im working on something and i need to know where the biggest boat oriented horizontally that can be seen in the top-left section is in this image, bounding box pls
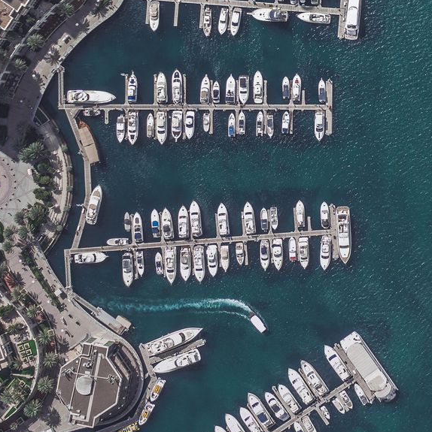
[66,90,117,104]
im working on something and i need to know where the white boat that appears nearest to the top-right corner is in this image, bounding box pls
[345,0,361,42]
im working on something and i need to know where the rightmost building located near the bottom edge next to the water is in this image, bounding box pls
[55,340,138,429]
